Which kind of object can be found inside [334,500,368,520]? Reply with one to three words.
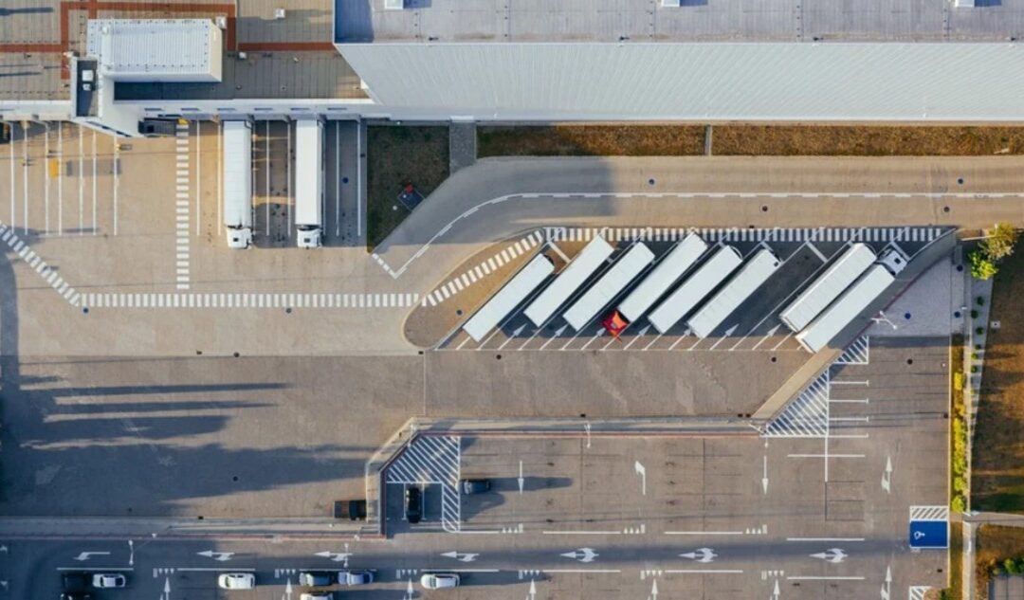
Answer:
vehicle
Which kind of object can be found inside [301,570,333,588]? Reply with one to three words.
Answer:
car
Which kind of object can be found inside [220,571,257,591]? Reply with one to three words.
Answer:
car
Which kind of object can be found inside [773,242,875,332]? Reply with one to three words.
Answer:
trailer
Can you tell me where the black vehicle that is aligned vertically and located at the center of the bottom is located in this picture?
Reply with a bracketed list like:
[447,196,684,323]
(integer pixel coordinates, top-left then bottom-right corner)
[404,485,421,523]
